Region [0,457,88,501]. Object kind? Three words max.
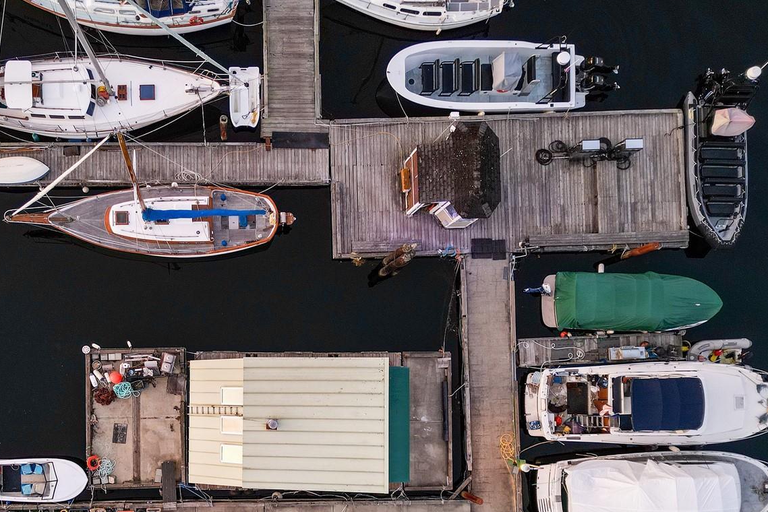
boat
